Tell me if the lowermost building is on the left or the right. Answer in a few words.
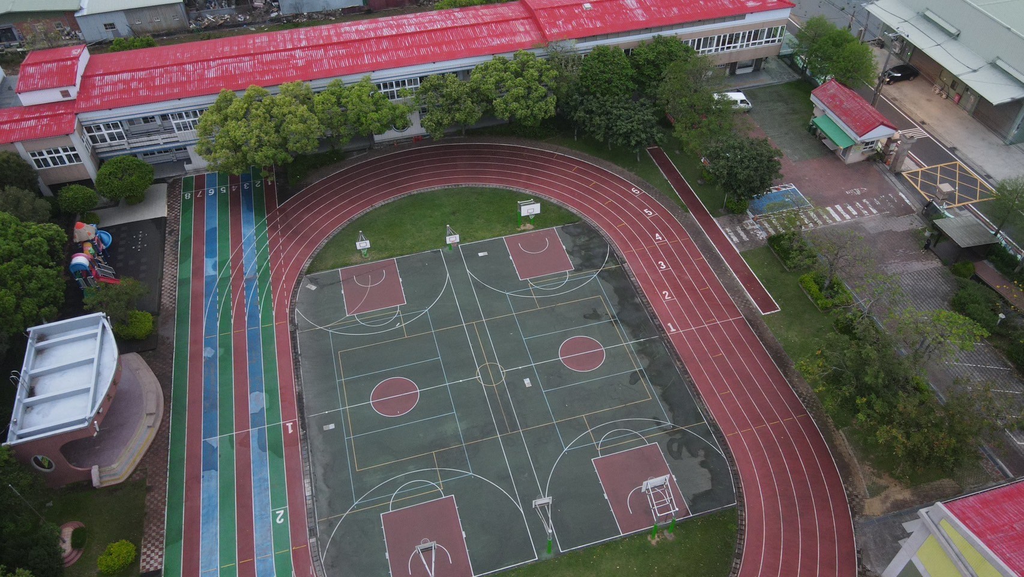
right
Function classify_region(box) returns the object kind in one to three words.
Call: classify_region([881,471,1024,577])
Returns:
building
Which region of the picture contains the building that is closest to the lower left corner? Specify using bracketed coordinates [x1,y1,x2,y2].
[1,312,165,487]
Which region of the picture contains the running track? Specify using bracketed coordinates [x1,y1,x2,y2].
[277,143,851,577]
